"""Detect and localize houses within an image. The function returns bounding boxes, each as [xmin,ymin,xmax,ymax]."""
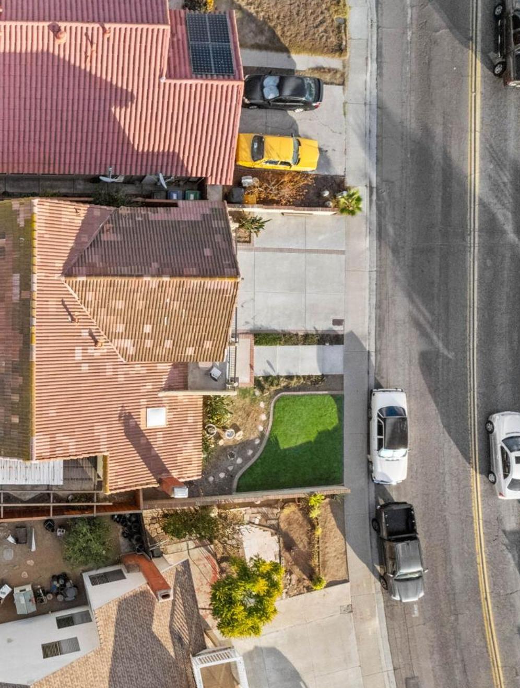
[0,0,245,185]
[0,542,205,688]
[0,197,243,502]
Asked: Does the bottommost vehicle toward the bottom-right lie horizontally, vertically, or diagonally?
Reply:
vertically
